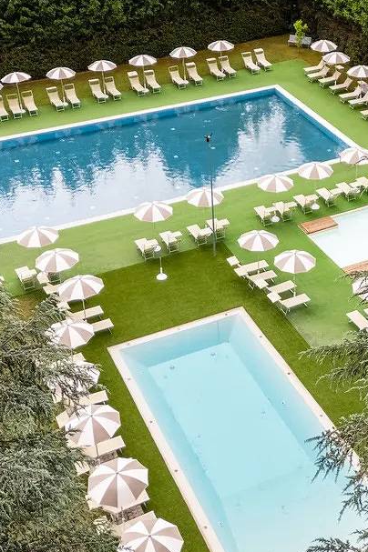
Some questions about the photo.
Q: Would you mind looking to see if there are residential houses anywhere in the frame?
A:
No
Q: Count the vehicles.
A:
0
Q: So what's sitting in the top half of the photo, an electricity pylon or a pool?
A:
pool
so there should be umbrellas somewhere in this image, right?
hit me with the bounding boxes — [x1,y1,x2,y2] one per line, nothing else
[87,61,116,77]
[1,75,31,111]
[338,148,368,165]
[257,176,294,208]
[271,249,316,274]
[118,521,186,552]
[346,66,368,91]
[62,410,119,474]
[35,250,80,285]
[48,320,99,362]
[132,203,170,251]
[44,70,74,106]
[321,55,349,90]
[237,229,278,275]
[127,57,154,91]
[20,228,64,252]
[311,42,338,58]
[50,361,104,416]
[208,41,235,65]
[298,165,334,191]
[59,276,106,323]
[167,49,193,83]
